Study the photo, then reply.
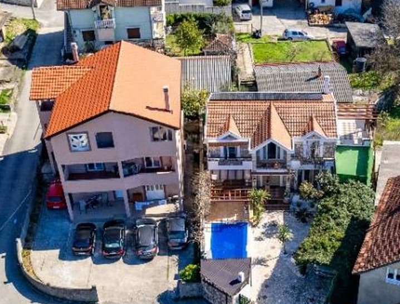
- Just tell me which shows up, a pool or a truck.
pool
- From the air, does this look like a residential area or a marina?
residential area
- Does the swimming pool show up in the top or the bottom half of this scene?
bottom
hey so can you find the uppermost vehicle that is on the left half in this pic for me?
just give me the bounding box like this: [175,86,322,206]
[44,177,67,207]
